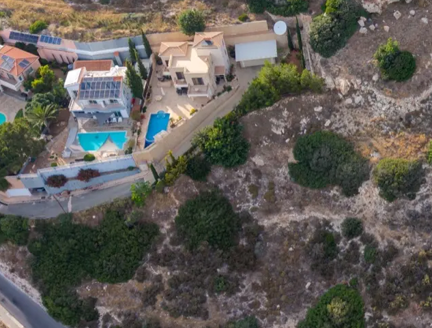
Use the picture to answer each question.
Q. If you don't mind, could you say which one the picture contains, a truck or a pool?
pool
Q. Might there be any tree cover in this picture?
Yes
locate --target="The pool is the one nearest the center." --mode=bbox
[143,112,172,149]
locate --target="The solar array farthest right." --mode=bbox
[79,74,124,97]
